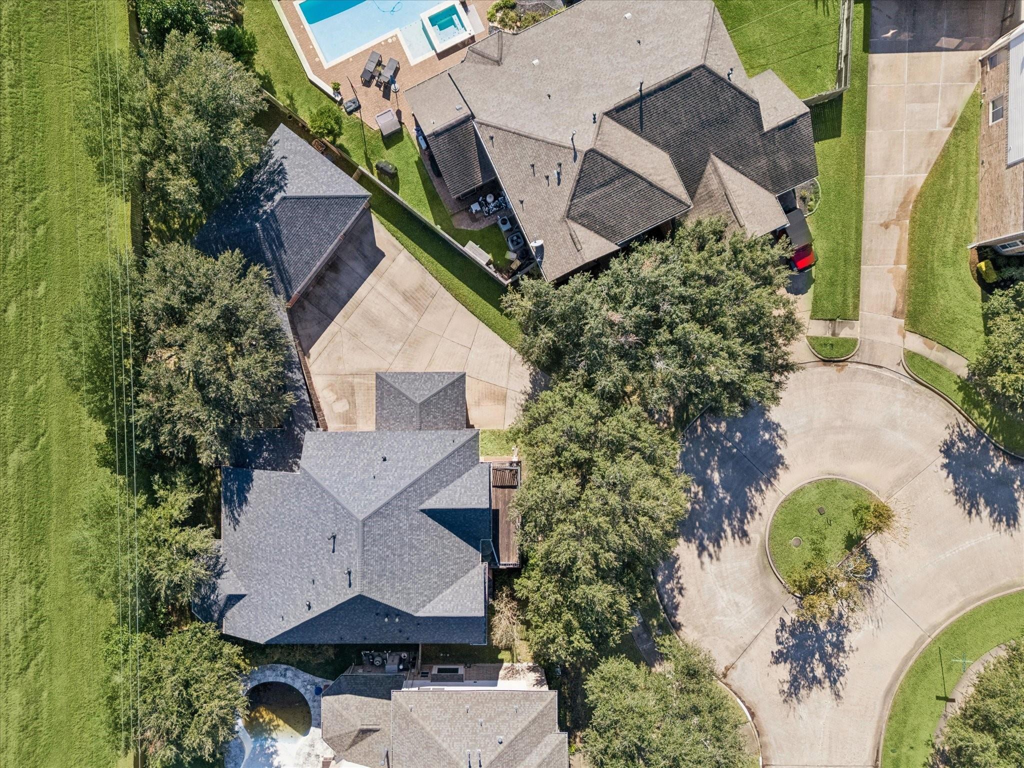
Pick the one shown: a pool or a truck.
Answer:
pool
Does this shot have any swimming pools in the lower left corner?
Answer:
Yes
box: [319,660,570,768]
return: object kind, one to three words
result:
house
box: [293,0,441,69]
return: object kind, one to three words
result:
swimming pool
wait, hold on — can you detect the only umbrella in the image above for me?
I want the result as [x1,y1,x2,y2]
[387,71,399,92]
